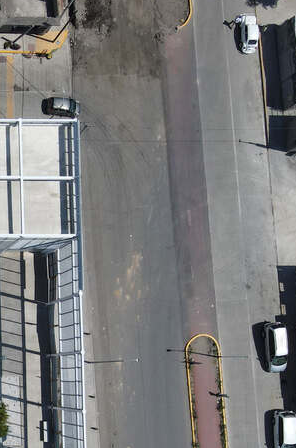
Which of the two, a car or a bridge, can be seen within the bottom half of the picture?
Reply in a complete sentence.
You can see a car within the bottom half of the picture.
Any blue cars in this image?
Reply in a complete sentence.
No, the frame has no blue car in it.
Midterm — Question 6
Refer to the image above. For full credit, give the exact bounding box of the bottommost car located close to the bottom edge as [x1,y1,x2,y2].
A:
[266,411,296,448]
